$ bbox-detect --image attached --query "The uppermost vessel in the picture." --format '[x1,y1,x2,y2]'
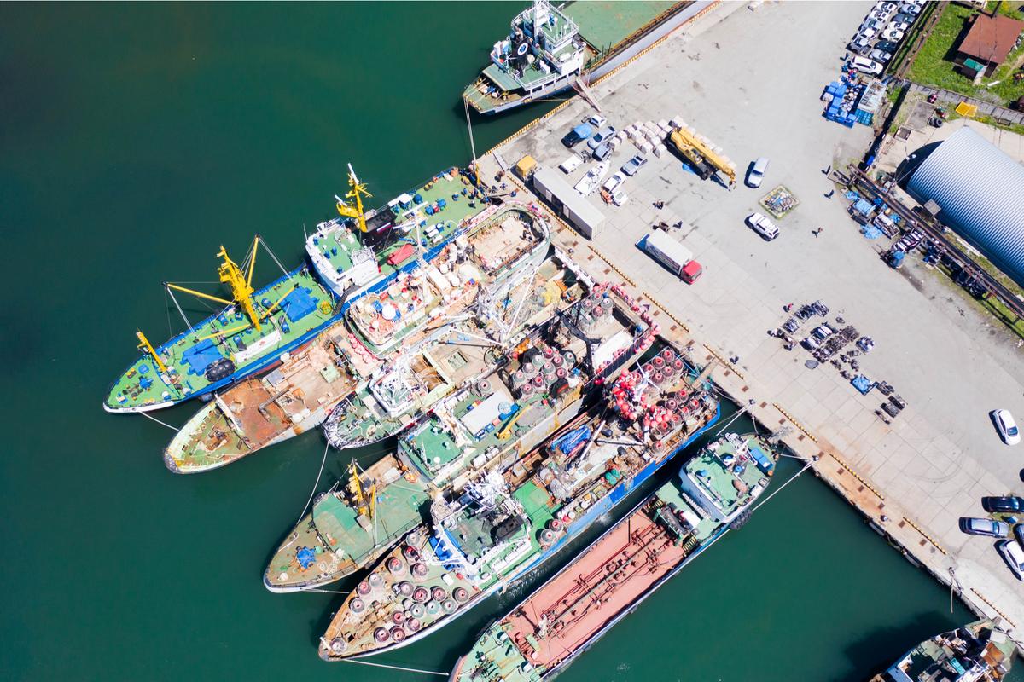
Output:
[468,0,743,122]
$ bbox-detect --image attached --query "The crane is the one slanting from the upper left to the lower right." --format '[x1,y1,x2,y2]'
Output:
[667,125,740,182]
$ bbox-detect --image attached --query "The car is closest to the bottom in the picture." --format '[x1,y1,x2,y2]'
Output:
[1001,540,1024,583]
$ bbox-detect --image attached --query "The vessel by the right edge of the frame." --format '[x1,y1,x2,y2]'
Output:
[876,618,1017,682]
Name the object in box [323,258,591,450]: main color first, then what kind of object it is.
white vessel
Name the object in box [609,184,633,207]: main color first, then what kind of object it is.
white car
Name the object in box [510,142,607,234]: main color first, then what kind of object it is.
white truck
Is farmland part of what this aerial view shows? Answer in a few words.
No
